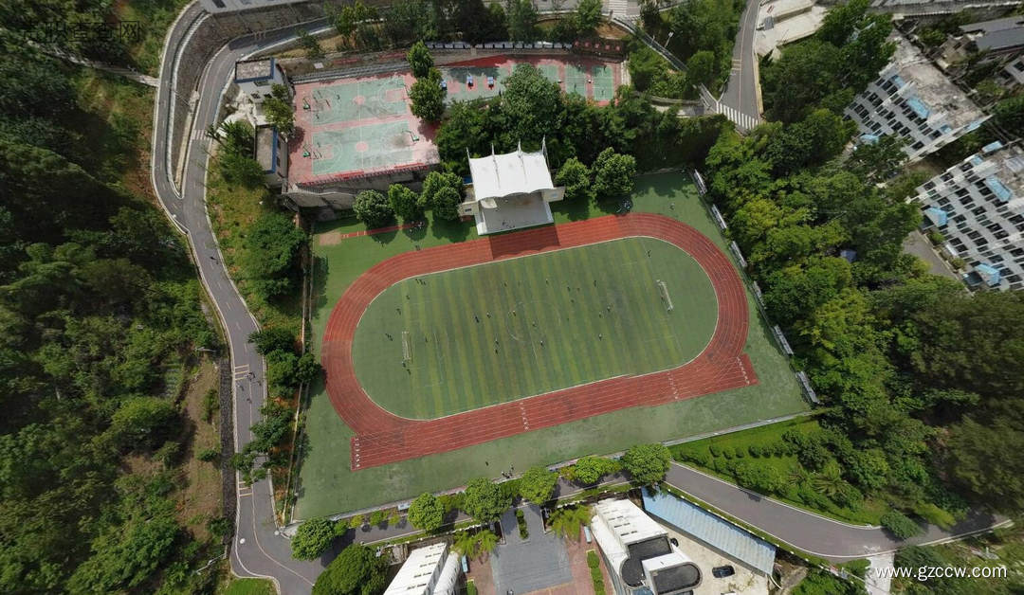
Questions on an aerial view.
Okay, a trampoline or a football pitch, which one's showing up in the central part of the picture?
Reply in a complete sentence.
You can see a football pitch in the central part of the picture.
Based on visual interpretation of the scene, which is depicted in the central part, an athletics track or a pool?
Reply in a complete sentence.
The one visible in the central part is an athletics track.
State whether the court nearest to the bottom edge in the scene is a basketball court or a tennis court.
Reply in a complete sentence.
It looks like the court nearest to the bottom edge is a basketball court.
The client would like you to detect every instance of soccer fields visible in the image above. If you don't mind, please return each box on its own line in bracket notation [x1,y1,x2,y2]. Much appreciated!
[352,237,718,419]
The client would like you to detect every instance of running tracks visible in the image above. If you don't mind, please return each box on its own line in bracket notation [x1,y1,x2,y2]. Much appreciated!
[321,212,761,471]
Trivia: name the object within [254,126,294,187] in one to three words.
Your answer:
house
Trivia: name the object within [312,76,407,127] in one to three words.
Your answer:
basketball court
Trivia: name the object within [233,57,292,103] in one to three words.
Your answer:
house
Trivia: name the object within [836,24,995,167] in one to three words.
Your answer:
building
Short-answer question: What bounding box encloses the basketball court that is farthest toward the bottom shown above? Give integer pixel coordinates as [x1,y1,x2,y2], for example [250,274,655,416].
[312,120,413,175]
